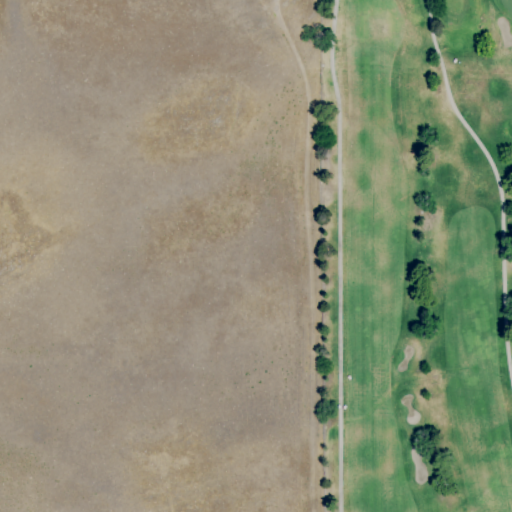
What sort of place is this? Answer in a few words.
golf course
